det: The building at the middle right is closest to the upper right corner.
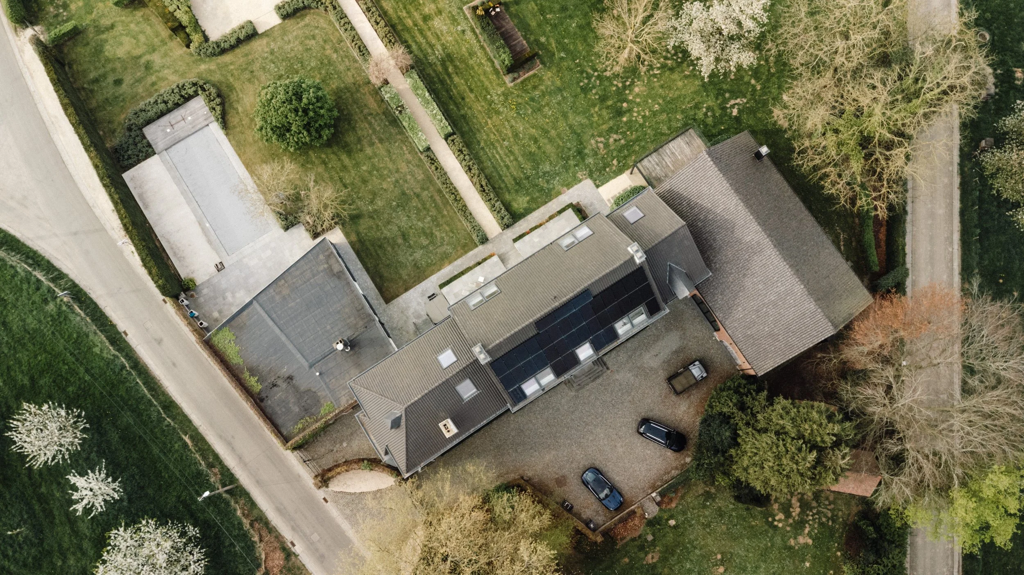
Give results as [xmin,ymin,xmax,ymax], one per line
[654,129,872,376]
